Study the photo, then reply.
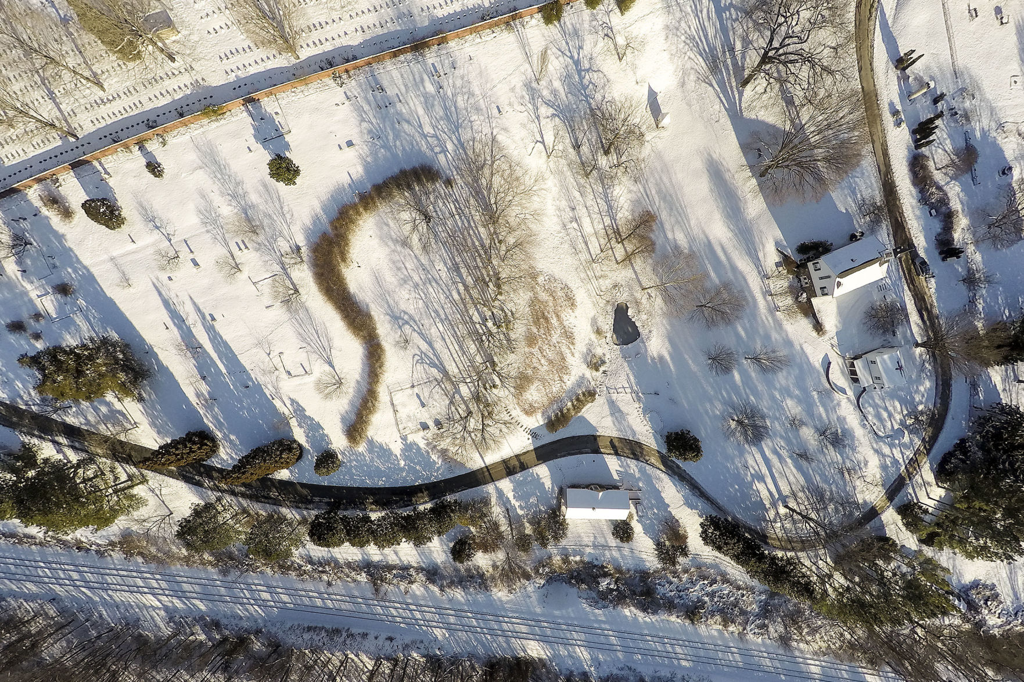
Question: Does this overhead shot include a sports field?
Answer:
No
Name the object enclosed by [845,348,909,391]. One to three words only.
house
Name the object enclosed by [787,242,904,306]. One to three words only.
building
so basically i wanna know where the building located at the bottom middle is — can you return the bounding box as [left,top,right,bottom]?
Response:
[560,482,637,521]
